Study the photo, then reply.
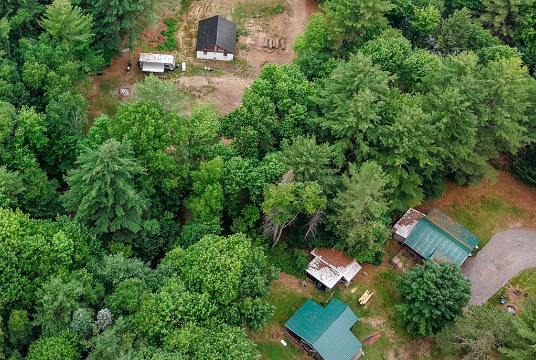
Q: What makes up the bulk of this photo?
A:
trees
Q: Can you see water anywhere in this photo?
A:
No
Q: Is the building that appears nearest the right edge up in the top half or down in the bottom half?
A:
bottom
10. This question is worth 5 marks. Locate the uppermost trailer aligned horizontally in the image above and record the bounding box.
[140,52,179,72]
